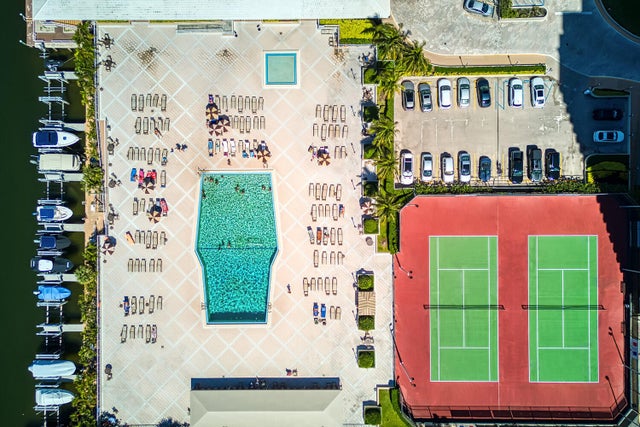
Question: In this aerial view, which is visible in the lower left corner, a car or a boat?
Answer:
boat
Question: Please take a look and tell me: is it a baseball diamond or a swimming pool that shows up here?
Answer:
swimming pool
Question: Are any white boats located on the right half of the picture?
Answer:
No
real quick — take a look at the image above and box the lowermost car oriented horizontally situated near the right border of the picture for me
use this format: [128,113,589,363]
[592,129,622,143]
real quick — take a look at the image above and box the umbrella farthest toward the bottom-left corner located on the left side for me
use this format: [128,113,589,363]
[101,243,116,257]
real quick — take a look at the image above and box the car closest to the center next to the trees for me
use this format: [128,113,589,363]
[400,153,414,183]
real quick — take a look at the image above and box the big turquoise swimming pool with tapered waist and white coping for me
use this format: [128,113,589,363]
[188,166,284,329]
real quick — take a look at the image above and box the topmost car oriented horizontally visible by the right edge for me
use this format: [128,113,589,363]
[591,106,622,121]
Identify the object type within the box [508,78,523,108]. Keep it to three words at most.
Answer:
car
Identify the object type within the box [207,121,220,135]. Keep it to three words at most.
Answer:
umbrella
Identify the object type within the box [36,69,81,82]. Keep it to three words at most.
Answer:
pier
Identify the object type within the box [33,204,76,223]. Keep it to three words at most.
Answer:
boat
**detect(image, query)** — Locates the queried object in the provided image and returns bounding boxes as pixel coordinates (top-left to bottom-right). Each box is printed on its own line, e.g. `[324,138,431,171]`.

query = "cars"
[476,78,491,108]
[464,0,494,18]
[592,129,622,143]
[528,78,545,108]
[437,78,452,108]
[478,156,492,182]
[418,83,432,113]
[458,153,472,183]
[508,78,523,108]
[547,150,563,179]
[420,153,434,183]
[591,106,622,121]
[441,154,456,184]
[400,153,414,183]
[401,81,415,111]
[509,153,525,182]
[456,78,471,108]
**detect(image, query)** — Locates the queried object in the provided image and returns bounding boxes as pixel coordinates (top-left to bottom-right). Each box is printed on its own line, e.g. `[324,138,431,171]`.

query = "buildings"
[31,0,390,19]
[190,388,342,427]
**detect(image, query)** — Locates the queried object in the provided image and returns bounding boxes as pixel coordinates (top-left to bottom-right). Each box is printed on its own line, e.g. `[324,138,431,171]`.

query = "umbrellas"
[218,118,231,133]
[140,180,154,194]
[207,121,220,135]
[205,106,219,119]
[256,149,271,163]
[101,243,116,257]
[148,210,162,225]
[317,154,332,168]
